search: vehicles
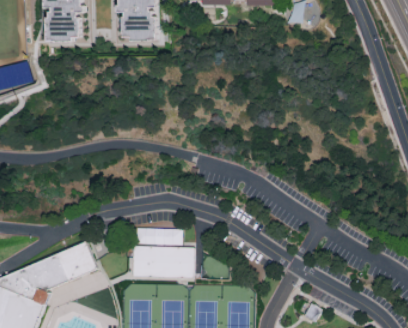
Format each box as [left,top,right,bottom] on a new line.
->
[238,240,244,250]
[254,252,264,264]
[240,211,249,222]
[252,222,259,230]
[244,248,253,258]
[257,224,264,232]
[230,204,240,217]
[250,250,258,261]
[235,208,245,220]
[244,214,254,226]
